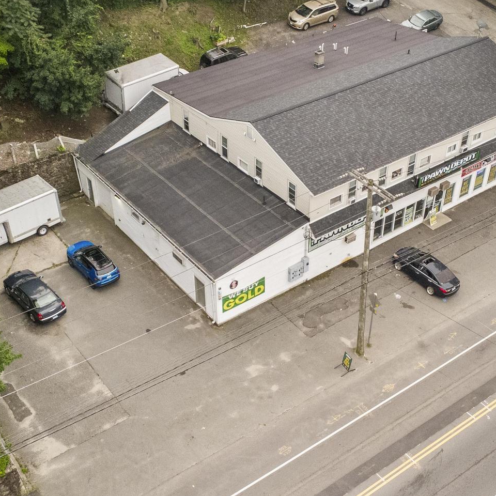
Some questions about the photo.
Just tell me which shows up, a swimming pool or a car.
car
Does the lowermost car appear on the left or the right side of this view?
left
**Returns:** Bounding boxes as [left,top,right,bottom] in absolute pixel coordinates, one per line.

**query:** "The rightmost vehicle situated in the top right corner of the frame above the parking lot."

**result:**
[397,7,448,31]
